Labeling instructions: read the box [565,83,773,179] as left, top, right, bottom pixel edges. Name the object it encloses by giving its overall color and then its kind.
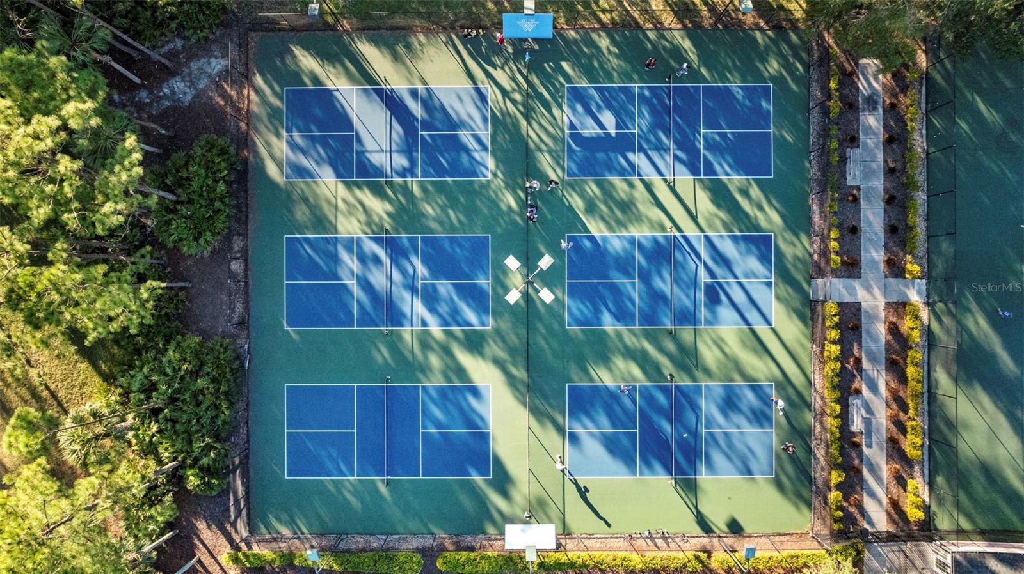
blue sports court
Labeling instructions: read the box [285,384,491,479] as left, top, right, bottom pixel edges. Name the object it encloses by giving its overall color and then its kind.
blue sports court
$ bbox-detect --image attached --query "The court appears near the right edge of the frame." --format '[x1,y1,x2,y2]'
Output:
[928,0,1024,533]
